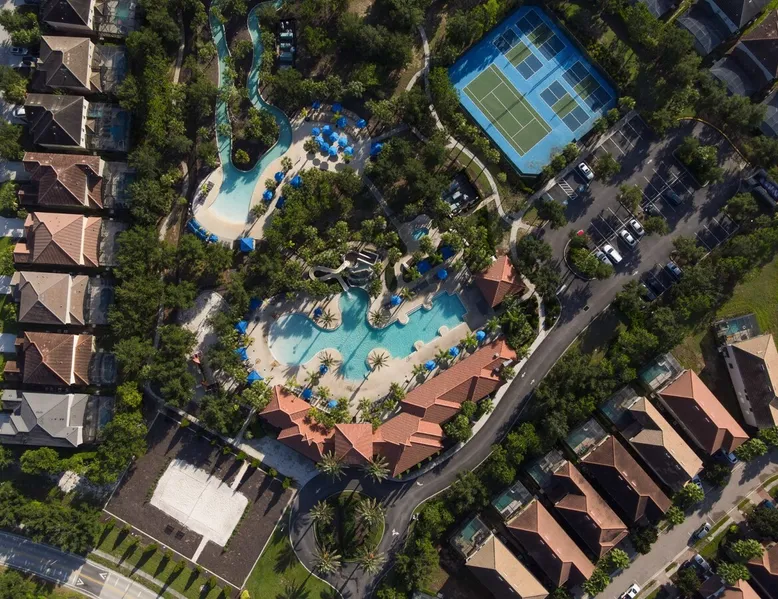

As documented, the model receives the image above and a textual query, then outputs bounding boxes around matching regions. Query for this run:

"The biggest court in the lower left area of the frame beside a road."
[103,412,295,591]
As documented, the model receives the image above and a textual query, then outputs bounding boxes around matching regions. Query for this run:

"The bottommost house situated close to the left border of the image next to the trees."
[0,390,90,448]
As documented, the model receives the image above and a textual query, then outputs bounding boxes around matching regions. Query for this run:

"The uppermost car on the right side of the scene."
[577,163,594,180]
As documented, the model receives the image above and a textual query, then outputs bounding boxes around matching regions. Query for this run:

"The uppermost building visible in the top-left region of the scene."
[39,0,106,33]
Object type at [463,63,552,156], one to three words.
tennis court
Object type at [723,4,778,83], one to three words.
house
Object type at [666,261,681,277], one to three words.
car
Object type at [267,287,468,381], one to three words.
swimming pool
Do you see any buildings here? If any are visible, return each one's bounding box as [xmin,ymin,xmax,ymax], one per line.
[614,397,704,495]
[578,433,672,529]
[653,370,748,463]
[464,529,552,599]
[476,257,525,306]
[39,0,106,33]
[701,572,760,599]
[735,521,778,588]
[539,458,628,559]
[19,152,109,208]
[504,495,595,593]
[723,4,778,83]
[33,36,103,93]
[4,331,96,385]
[14,212,104,266]
[24,94,97,149]
[11,271,91,325]
[0,390,90,448]
[264,340,520,477]
[723,334,778,431]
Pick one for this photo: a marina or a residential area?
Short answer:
residential area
